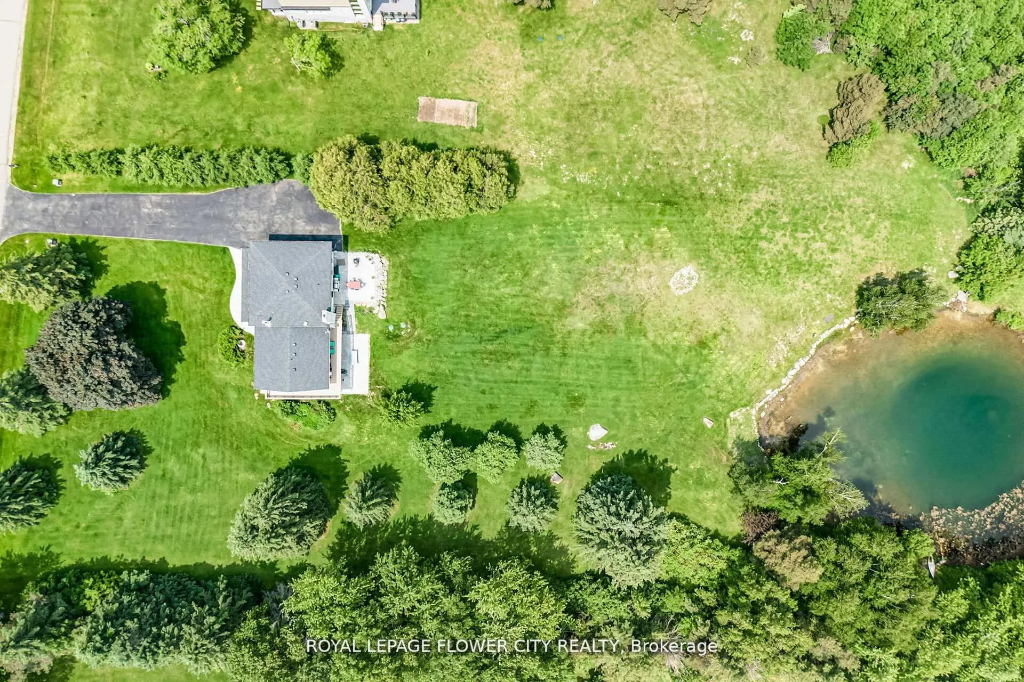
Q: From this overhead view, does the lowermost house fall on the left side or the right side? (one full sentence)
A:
The lowermost house appears in the left half of the scene.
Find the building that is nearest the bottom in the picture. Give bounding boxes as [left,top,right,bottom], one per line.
[242,240,336,393]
